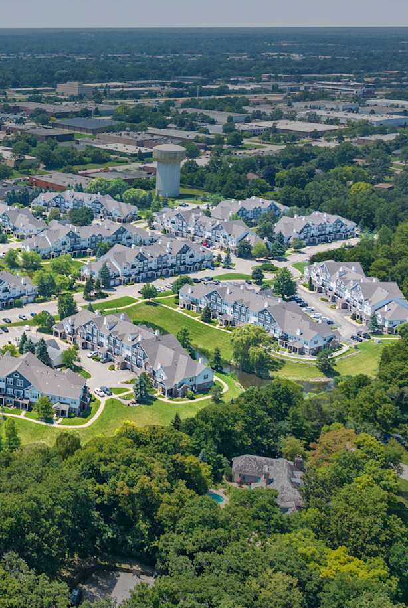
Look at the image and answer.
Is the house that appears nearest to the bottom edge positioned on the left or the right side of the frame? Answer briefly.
right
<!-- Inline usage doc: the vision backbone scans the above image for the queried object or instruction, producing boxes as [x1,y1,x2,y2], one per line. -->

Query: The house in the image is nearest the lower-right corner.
[229,446,314,527]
